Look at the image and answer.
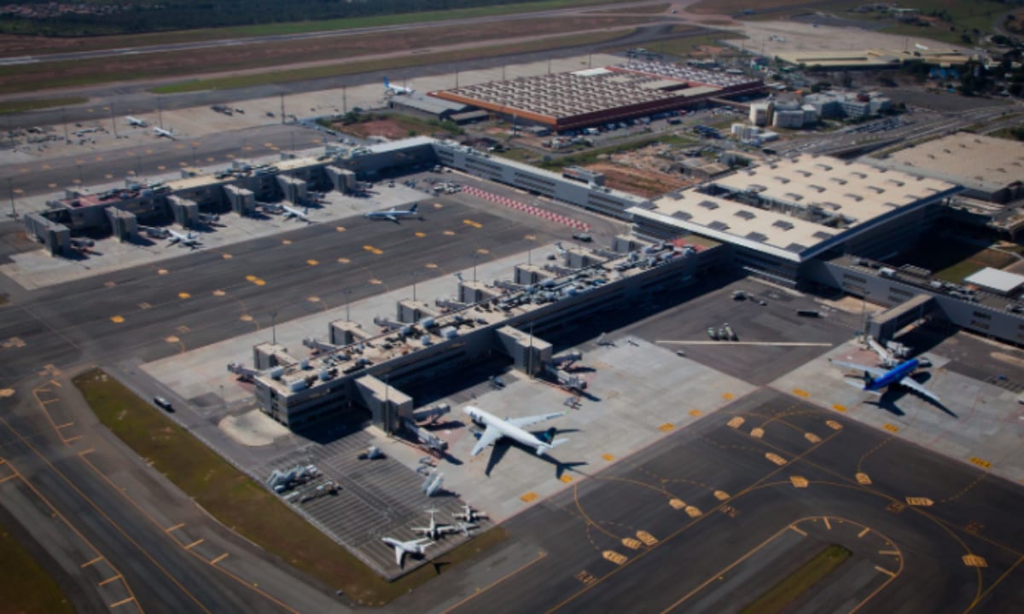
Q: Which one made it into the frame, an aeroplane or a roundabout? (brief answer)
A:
aeroplane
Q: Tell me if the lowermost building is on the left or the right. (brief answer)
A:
right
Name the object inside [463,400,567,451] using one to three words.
airplane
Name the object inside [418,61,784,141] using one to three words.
building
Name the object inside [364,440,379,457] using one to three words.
work vehicle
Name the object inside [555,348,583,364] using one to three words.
jet bridge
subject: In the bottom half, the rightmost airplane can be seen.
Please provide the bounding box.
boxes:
[837,353,939,396]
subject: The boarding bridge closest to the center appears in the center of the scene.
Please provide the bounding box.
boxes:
[491,279,525,293]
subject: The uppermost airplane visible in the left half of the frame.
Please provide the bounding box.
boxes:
[386,78,415,94]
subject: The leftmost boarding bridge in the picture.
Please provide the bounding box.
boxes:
[69,236,97,250]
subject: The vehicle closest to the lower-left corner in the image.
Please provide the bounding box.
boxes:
[154,393,171,409]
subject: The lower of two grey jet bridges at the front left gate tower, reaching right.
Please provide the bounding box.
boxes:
[404,419,450,454]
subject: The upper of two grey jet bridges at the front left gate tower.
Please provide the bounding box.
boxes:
[414,402,454,421]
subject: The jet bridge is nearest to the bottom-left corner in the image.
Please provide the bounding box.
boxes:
[224,362,259,385]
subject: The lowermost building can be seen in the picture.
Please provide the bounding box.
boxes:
[965,266,1024,301]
